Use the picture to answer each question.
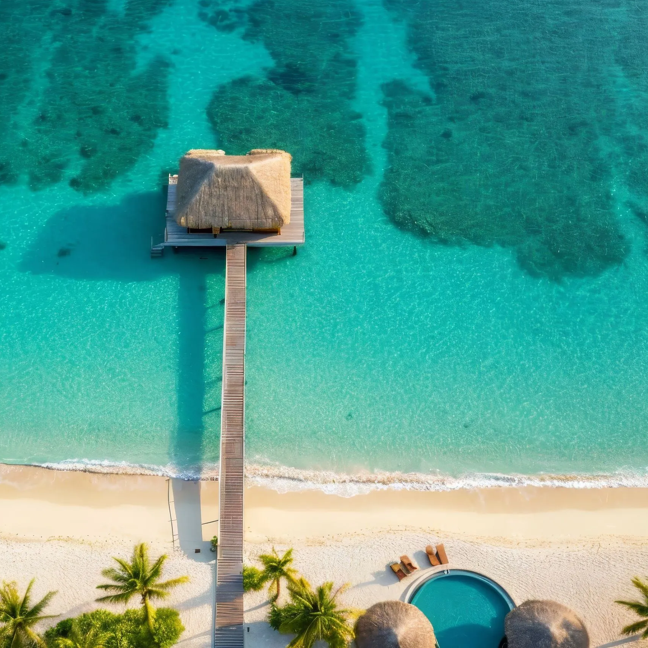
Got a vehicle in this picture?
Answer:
No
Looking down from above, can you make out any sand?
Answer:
Yes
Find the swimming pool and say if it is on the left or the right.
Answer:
right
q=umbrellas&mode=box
[501,601,592,648]
[352,603,438,648]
